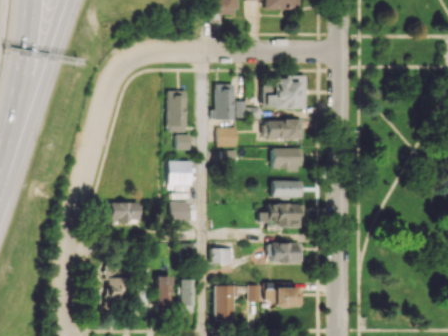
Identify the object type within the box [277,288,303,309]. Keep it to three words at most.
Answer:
house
